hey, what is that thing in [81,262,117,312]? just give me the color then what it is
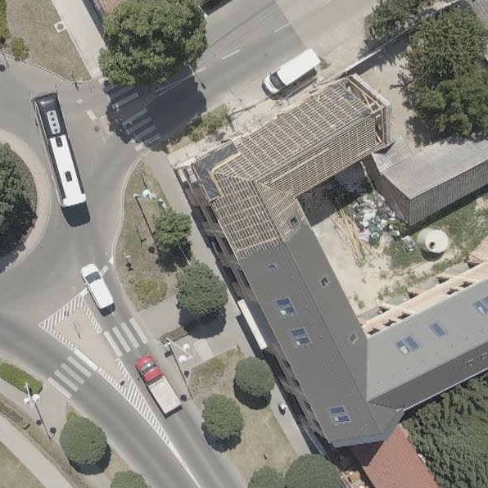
white van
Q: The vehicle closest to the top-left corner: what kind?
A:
bus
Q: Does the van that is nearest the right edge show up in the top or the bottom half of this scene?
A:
top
